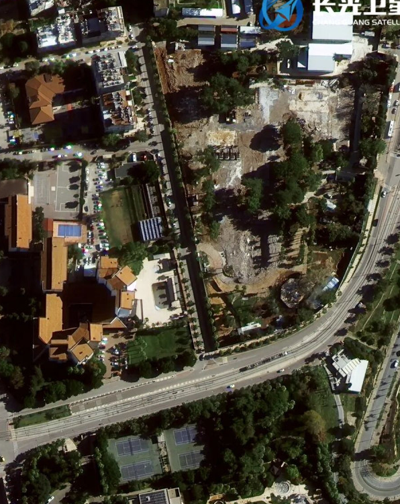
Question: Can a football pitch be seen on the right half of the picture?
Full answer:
No, I see no football pitch on the right half of the picture.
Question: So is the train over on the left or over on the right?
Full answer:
You can find the train on the right side of the picture.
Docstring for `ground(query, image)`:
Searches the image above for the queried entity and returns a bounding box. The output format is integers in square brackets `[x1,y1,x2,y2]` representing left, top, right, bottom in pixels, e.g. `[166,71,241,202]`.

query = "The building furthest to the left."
[0,180,34,254]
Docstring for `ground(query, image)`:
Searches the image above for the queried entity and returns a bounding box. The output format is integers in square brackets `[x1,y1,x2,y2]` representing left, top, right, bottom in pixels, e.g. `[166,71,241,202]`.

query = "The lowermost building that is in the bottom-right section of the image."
[332,349,367,394]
